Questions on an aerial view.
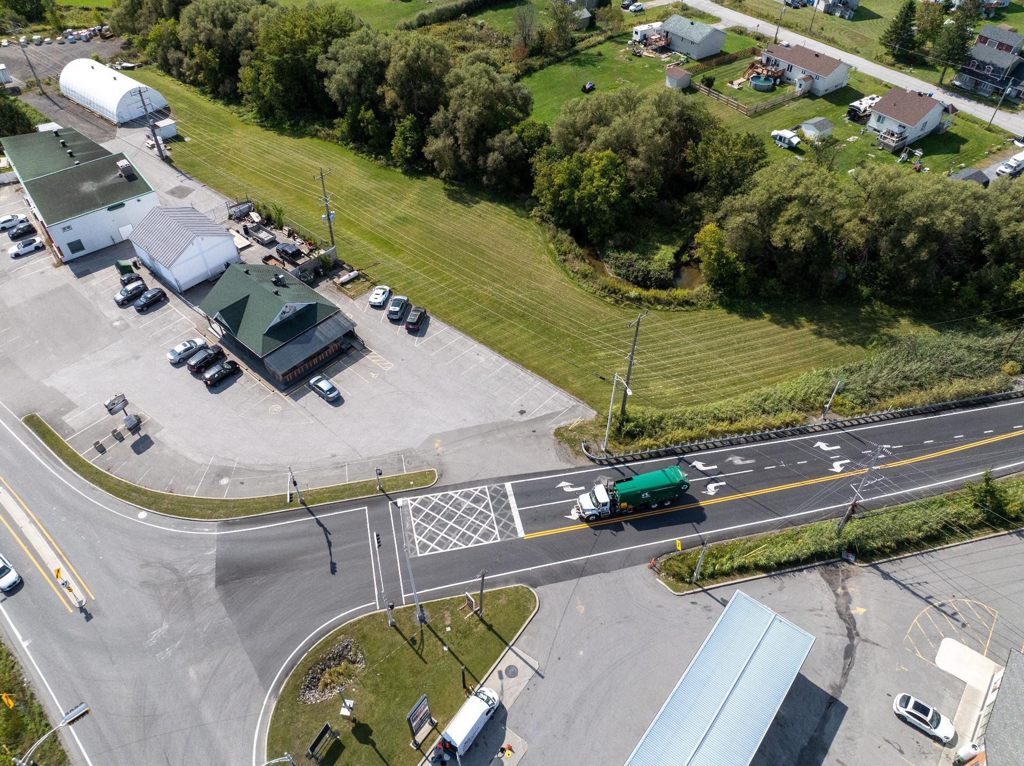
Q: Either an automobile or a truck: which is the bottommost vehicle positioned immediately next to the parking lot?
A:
truck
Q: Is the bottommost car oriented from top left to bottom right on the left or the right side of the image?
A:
right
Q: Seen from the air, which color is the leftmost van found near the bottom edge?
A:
white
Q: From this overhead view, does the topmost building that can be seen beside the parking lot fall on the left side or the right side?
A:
left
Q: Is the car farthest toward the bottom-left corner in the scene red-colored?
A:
No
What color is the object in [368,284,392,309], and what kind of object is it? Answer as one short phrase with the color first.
white car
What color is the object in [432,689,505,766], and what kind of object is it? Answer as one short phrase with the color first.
white van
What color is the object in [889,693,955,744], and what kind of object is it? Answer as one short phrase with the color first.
white car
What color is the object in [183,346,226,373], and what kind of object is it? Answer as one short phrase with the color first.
black car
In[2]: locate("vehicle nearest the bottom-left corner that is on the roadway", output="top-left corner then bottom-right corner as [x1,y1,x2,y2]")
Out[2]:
[0,558,20,594]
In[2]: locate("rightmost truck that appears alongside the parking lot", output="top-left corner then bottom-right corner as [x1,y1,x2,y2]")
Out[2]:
[572,464,698,522]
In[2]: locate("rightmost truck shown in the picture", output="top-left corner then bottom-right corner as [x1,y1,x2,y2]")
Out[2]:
[996,147,1024,175]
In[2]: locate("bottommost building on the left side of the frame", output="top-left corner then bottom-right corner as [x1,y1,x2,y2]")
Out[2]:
[166,264,365,390]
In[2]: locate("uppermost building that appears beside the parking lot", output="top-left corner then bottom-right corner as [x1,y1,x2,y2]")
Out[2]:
[57,53,169,125]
